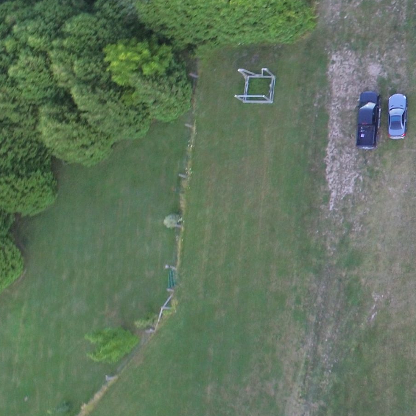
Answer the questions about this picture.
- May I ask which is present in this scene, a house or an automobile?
automobile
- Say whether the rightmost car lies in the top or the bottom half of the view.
top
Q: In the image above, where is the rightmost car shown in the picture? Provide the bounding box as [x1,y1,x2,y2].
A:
[385,94,409,139]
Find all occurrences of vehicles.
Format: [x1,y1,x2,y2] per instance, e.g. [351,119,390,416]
[355,92,383,152]
[385,94,409,139]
